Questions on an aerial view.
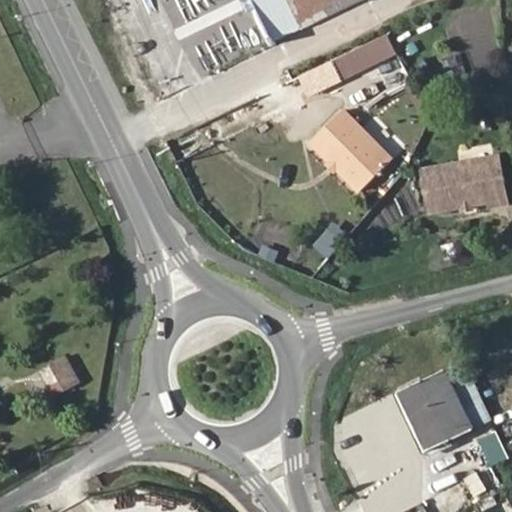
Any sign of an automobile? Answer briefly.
Yes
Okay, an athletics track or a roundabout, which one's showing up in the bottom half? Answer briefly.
roundabout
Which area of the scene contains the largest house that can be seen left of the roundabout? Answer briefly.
bottom left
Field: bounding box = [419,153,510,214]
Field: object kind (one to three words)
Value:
house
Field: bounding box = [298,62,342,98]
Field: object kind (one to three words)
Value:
building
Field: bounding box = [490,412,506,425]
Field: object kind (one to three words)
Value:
vehicle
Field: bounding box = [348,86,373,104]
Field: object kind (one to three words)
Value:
vehicle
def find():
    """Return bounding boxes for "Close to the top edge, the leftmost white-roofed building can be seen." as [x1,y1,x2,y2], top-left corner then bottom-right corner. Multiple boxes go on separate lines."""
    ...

[252,0,302,38]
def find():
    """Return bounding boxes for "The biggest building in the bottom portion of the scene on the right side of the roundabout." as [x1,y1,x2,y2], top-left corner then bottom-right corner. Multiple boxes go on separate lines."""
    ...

[395,370,472,454]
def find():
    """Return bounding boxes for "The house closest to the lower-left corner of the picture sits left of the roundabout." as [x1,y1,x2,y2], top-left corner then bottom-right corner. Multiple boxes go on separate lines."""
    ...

[49,356,80,391]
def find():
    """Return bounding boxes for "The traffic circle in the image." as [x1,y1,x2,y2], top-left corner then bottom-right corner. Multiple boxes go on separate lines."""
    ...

[120,244,334,491]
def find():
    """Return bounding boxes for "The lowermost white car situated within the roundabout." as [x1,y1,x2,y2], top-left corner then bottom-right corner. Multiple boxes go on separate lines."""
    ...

[194,430,217,448]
